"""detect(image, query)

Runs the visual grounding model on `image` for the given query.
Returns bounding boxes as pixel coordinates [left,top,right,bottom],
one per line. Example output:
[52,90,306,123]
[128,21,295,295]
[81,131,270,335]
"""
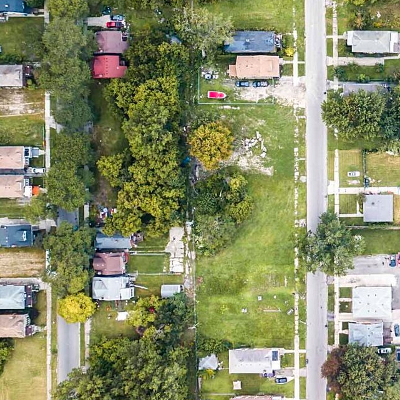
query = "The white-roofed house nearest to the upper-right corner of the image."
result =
[347,30,398,53]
